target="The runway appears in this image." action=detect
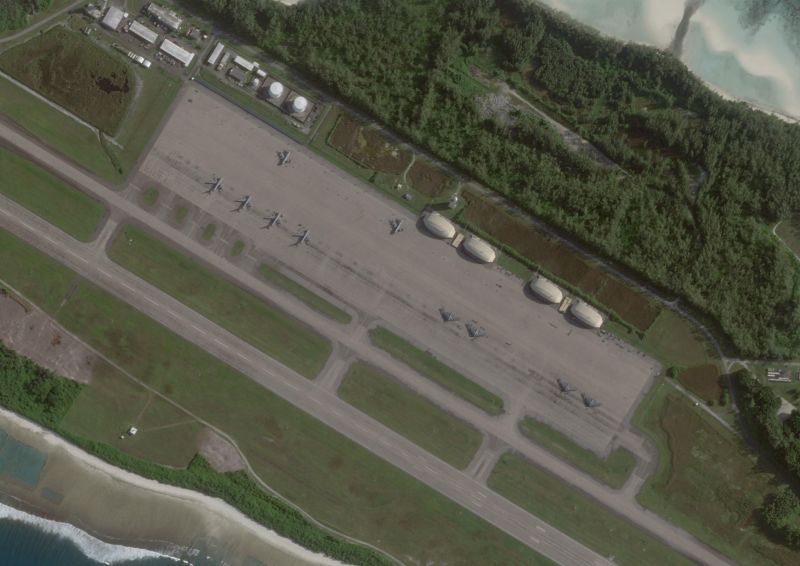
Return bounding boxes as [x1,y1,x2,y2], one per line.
[0,193,618,566]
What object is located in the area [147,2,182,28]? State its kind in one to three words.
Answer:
building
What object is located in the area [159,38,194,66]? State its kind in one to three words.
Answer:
building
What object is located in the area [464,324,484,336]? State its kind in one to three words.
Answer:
airplane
